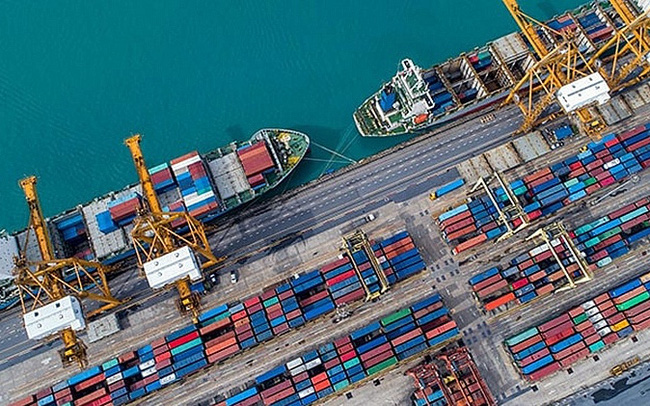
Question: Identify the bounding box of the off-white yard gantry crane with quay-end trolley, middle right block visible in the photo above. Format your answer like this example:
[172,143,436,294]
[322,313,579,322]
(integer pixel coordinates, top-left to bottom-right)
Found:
[519,220,590,294]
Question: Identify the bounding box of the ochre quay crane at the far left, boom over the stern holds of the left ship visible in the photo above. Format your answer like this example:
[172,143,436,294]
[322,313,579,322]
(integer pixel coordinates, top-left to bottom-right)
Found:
[10,178,131,363]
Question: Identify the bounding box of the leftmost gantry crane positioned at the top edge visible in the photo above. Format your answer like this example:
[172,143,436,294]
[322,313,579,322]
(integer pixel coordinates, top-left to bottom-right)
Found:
[501,0,613,139]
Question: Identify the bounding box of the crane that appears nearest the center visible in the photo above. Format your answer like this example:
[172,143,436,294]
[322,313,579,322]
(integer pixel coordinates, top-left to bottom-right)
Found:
[338,227,392,302]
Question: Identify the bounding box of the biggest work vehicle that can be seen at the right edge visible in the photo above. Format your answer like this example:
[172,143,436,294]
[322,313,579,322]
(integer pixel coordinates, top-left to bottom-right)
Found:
[606,355,646,377]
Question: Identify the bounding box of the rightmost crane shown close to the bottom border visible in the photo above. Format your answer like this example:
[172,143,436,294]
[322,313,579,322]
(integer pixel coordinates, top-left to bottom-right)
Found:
[430,342,496,406]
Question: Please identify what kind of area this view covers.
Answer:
port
